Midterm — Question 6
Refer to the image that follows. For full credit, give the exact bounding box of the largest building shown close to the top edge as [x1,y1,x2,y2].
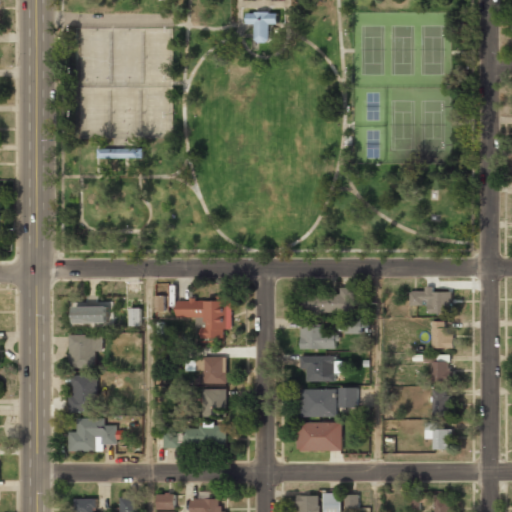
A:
[244,11,278,40]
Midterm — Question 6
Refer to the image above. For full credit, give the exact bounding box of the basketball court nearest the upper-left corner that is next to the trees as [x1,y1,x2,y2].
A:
[84,29,110,82]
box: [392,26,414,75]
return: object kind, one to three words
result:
tennis court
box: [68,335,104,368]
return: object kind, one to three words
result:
house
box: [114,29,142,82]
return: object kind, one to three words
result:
basketball court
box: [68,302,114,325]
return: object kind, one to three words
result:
house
